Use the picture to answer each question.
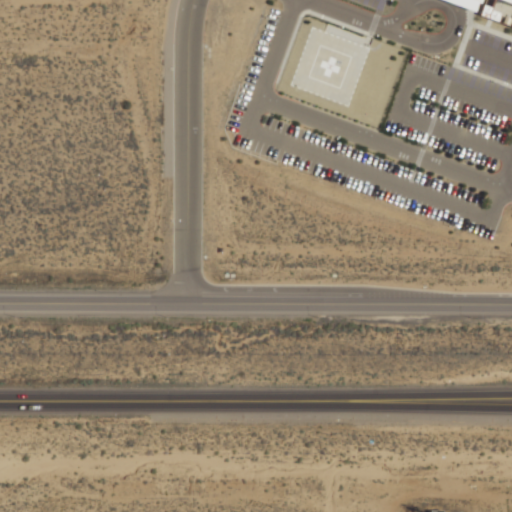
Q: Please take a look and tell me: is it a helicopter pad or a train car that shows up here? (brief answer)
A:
helicopter pad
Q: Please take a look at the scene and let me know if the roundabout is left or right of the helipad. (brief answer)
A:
to the right of it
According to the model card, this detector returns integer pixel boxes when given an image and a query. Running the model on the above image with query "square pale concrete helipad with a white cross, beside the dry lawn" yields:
[291,27,370,106]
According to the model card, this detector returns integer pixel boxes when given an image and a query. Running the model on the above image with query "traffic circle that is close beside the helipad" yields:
[396,0,467,54]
